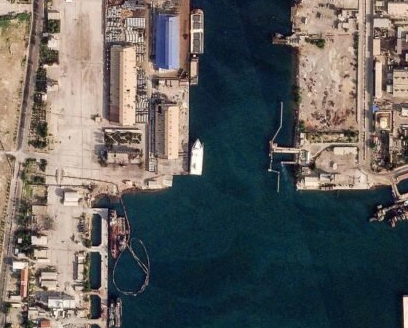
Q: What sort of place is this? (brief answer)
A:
port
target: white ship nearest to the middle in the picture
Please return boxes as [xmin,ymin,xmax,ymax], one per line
[190,139,203,175]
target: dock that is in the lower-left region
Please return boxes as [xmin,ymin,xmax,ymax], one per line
[87,208,108,328]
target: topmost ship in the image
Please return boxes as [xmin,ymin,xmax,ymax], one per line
[191,9,203,54]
